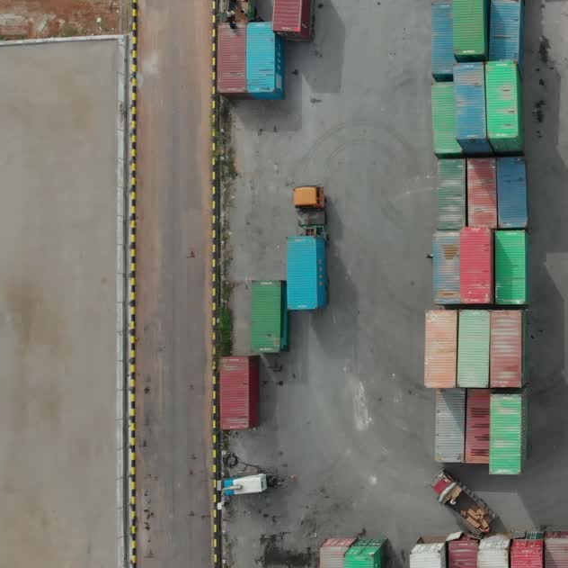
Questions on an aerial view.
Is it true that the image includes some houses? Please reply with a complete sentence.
No, I find no house anywhere in the image.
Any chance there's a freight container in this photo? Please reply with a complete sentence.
Yes, the frame does contain a freight container.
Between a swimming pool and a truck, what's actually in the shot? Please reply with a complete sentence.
Visible in the photo is a truck.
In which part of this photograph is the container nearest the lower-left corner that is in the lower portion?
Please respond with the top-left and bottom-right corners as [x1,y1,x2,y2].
[220,355,260,429]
